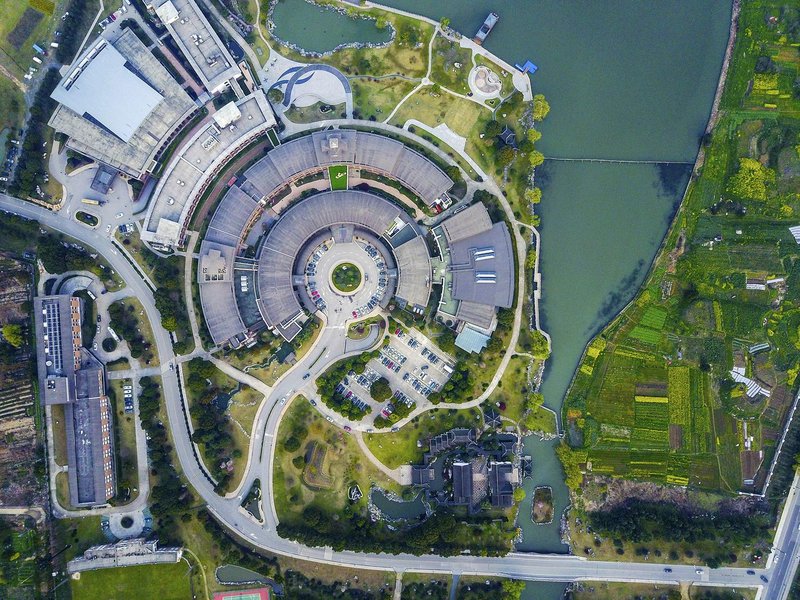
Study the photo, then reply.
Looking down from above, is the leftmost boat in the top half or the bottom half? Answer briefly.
top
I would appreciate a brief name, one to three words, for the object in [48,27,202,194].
building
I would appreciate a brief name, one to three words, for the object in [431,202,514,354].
building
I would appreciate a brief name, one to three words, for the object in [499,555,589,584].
bridge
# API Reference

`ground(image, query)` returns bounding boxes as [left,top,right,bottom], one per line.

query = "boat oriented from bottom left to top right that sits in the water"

[473,15,495,45]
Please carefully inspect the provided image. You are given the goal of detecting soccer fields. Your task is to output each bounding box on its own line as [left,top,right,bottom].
[70,562,193,600]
